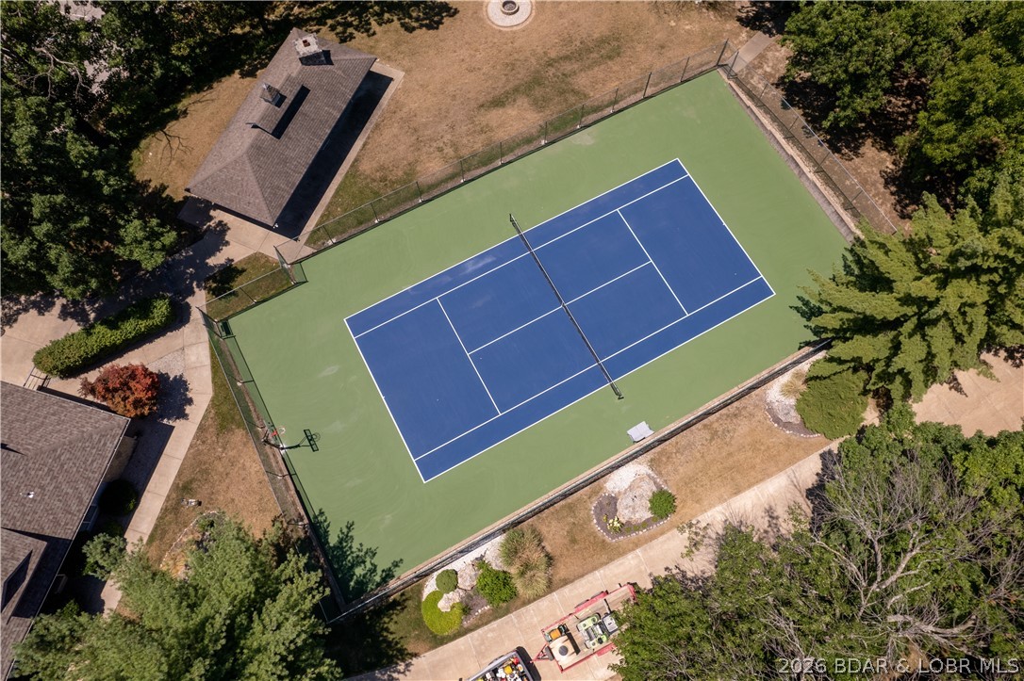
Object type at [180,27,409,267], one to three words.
building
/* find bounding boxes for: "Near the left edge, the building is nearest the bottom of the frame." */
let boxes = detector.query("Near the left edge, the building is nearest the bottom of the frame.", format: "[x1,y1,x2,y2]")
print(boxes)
[0,376,143,681]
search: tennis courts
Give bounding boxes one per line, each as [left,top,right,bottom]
[224,66,888,606]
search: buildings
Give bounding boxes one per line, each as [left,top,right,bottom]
[0,376,143,681]
[180,27,409,267]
